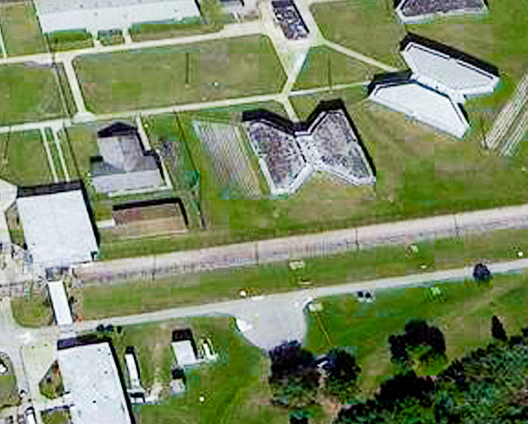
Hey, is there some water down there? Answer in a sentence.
No, water can't be seen anywhere here.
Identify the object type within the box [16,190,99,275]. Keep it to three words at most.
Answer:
building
